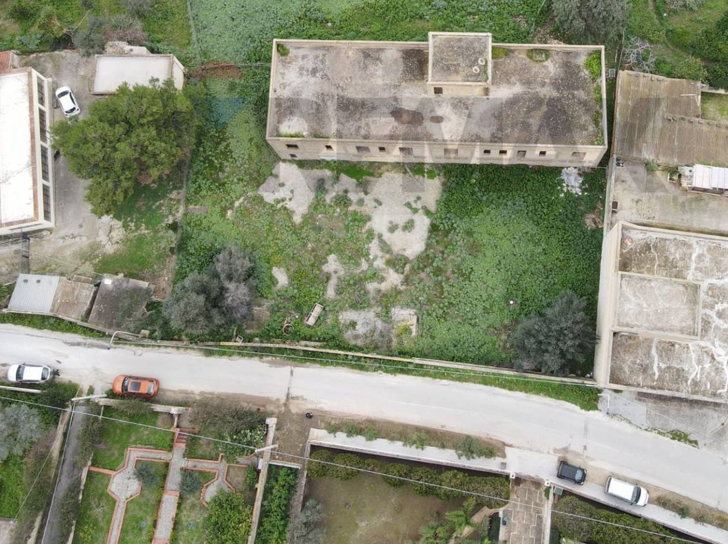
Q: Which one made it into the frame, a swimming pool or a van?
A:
van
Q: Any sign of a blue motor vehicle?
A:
No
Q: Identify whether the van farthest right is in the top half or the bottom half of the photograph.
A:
bottom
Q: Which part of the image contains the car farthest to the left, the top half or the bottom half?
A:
bottom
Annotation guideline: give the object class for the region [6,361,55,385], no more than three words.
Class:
car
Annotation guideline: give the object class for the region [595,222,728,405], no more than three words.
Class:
warehouse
